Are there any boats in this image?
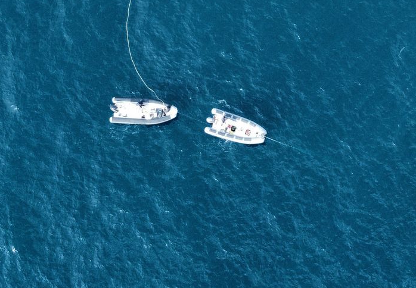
Yes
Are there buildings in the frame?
No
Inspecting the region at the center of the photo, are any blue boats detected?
No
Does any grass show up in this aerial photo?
No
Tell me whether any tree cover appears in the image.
No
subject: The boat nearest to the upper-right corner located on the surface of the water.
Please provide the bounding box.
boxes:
[207,109,267,144]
